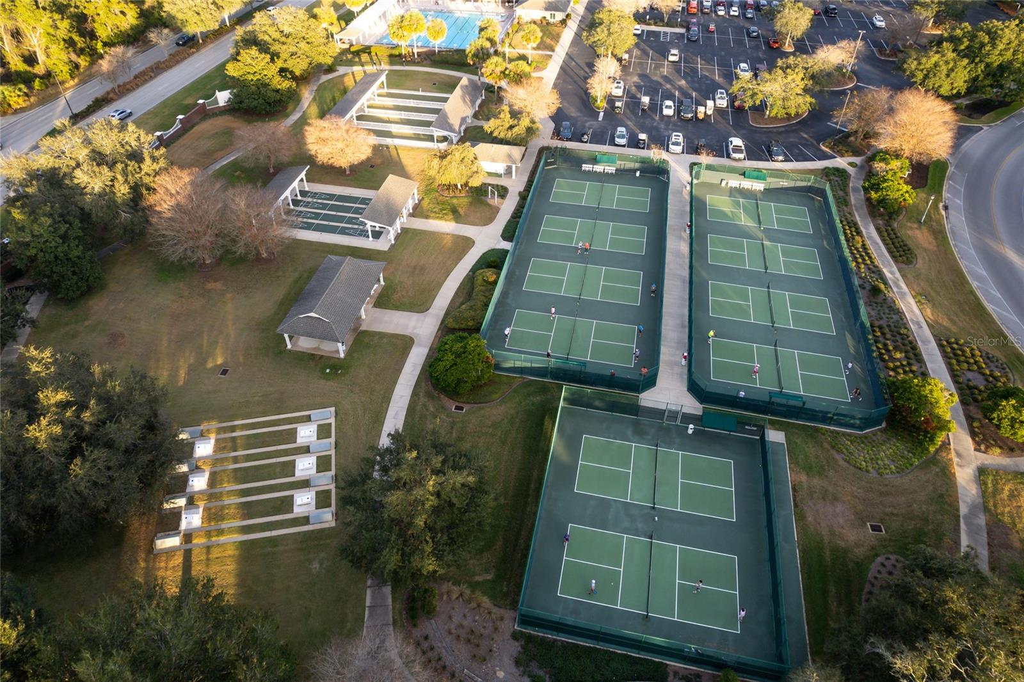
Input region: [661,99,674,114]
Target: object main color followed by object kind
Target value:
white vehicle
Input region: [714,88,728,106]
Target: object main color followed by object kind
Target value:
white car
